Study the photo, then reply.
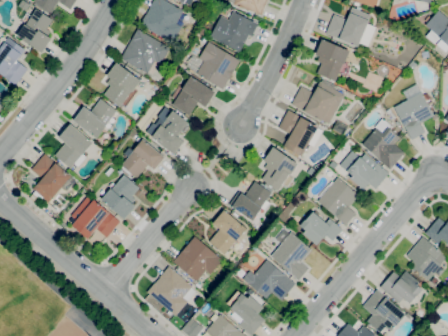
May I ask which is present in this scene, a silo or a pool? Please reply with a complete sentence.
There is a pool in the scene.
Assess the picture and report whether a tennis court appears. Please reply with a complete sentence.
No, there isn't any tennis court down there.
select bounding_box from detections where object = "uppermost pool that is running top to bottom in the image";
[0,0,12,26]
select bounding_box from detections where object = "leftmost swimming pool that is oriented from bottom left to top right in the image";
[78,160,98,176]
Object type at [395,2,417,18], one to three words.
swimming pool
